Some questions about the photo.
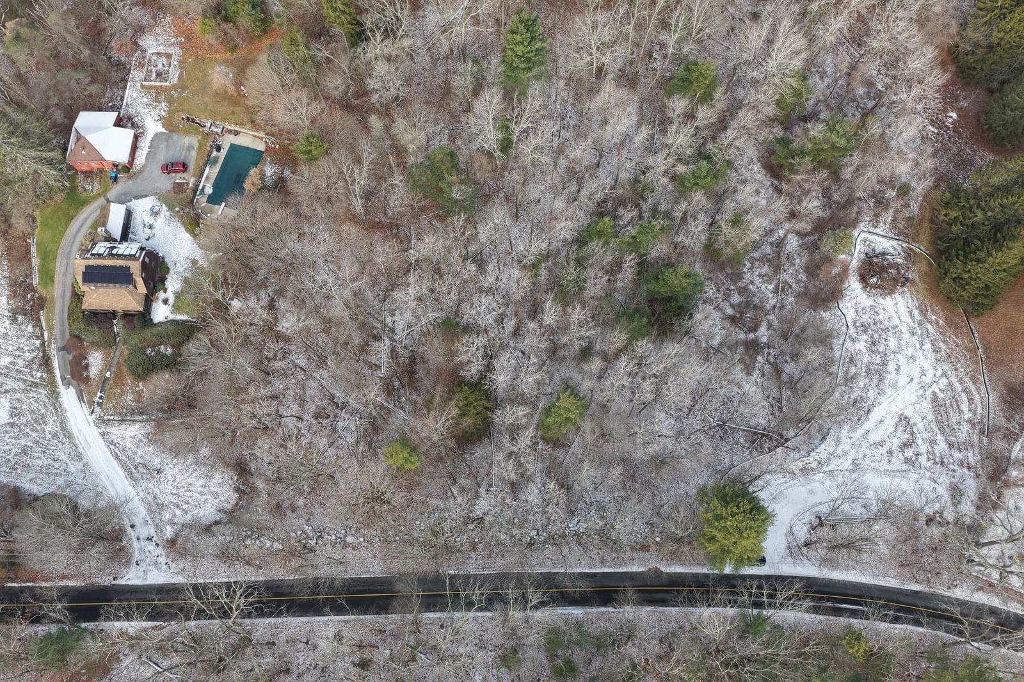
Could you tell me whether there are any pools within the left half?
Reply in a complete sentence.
Yes, you'll find a pool within the left half.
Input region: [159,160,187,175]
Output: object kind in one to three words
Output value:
car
